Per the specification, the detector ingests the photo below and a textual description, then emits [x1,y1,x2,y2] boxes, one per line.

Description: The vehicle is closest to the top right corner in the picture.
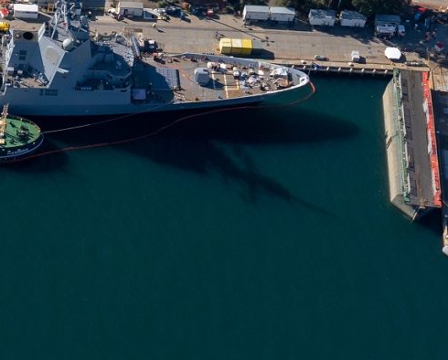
[374,21,408,36]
